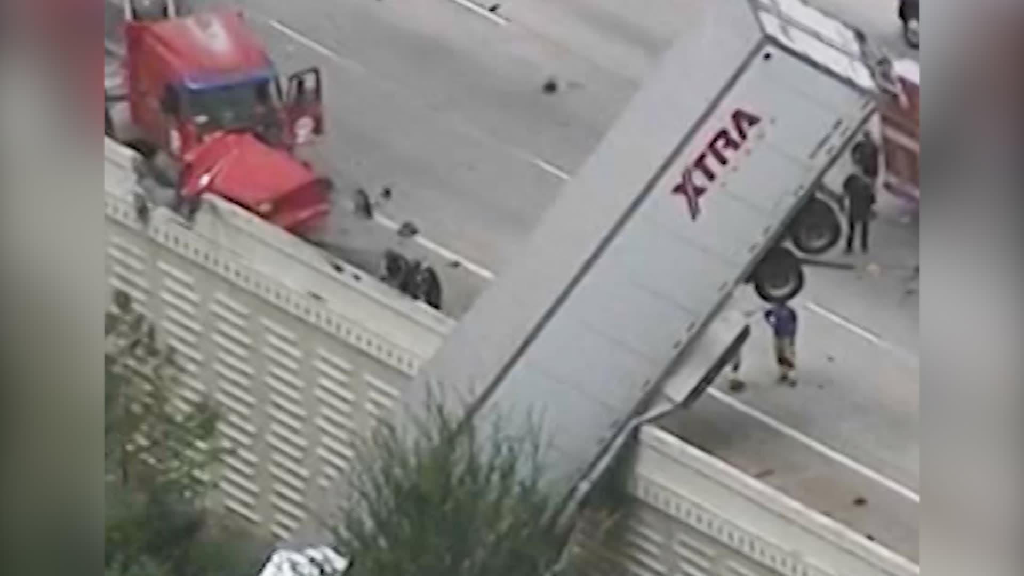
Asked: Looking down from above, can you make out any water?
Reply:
No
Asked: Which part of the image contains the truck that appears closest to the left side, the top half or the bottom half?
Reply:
top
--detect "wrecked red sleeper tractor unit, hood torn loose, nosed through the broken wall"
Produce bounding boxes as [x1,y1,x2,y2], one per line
[92,0,338,256]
